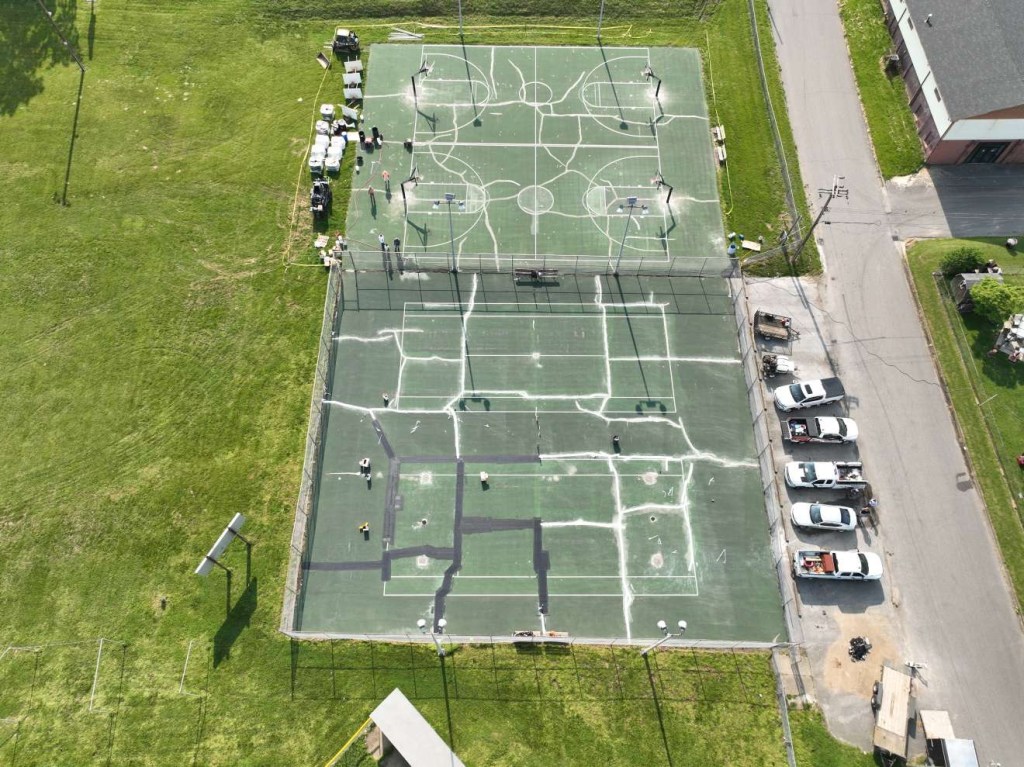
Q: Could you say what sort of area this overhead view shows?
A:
sports ground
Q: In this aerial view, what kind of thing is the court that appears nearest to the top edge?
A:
basketball court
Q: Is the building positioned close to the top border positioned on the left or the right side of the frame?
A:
right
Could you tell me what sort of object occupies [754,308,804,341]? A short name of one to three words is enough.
trailer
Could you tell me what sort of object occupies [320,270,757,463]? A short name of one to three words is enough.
tennis court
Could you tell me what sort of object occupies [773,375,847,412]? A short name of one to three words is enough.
truck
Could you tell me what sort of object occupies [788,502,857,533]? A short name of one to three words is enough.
car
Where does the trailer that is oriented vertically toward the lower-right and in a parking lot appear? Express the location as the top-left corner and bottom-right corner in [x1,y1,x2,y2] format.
[871,666,916,767]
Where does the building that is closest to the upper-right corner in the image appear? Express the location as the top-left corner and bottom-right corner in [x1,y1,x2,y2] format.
[879,0,1024,167]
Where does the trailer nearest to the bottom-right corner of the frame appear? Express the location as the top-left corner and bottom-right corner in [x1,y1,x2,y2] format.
[921,707,982,767]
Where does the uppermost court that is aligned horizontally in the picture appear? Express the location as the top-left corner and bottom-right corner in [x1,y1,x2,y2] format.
[358,43,715,148]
